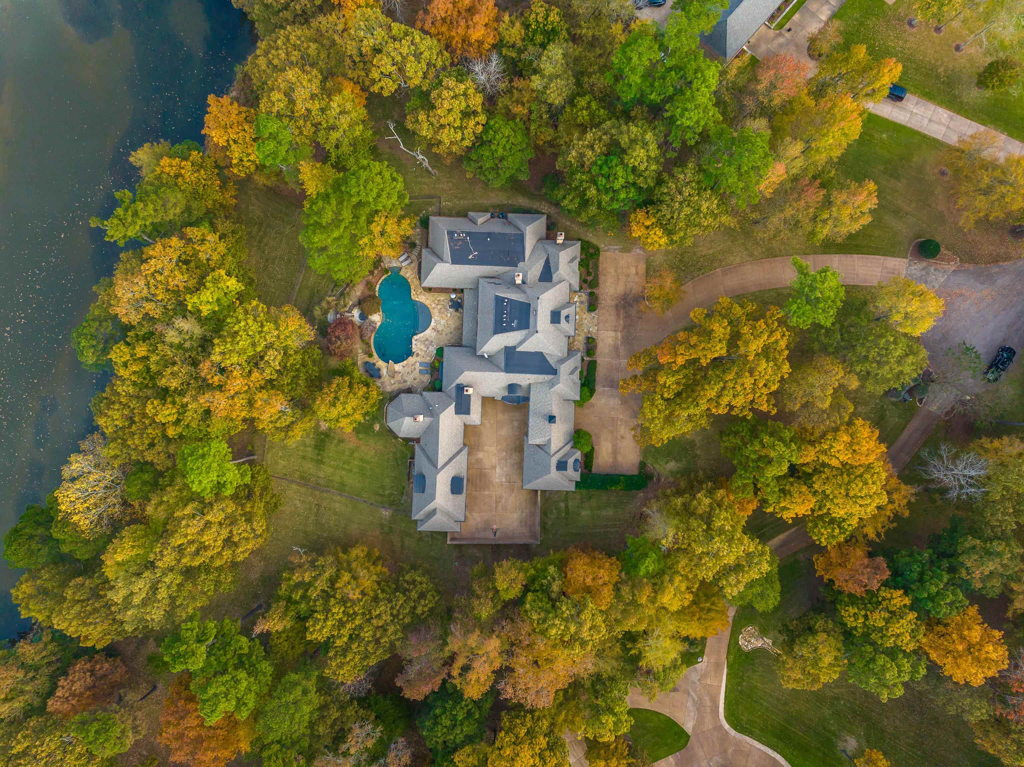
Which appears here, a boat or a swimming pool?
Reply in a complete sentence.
This aerial view contains a swimming pool.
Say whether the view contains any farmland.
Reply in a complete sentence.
No, farmland can't be seen anywhere here.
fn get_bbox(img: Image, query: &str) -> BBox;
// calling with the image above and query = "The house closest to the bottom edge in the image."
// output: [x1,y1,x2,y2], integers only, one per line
[386,212,581,532]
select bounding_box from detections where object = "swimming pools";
[373,273,432,364]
